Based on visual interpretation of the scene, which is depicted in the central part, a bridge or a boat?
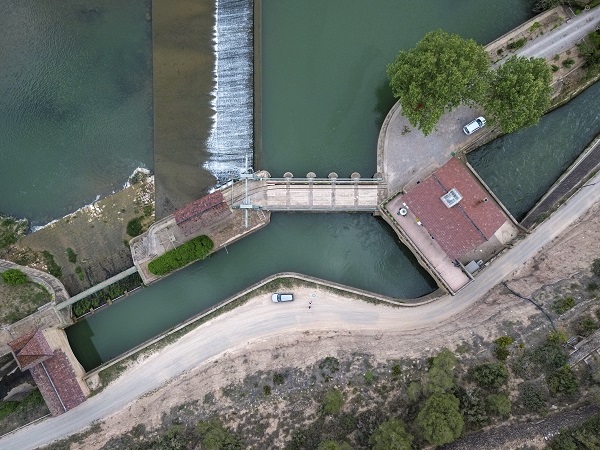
bridge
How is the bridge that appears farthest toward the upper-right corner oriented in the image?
from side to side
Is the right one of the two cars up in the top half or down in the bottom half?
top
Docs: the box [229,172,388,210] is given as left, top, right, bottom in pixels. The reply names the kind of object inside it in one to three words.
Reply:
bridge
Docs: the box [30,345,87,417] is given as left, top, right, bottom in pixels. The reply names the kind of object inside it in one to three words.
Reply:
house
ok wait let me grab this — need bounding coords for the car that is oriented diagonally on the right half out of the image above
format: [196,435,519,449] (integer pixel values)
[461,116,486,136]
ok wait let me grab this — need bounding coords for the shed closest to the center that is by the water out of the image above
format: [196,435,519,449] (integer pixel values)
[174,190,232,237]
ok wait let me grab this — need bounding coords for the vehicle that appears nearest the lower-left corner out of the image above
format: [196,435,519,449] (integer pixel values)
[272,291,294,304]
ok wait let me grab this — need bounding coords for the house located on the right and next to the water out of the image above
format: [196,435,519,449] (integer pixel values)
[402,158,508,259]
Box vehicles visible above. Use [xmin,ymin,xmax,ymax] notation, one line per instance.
[461,116,486,136]
[272,291,294,304]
